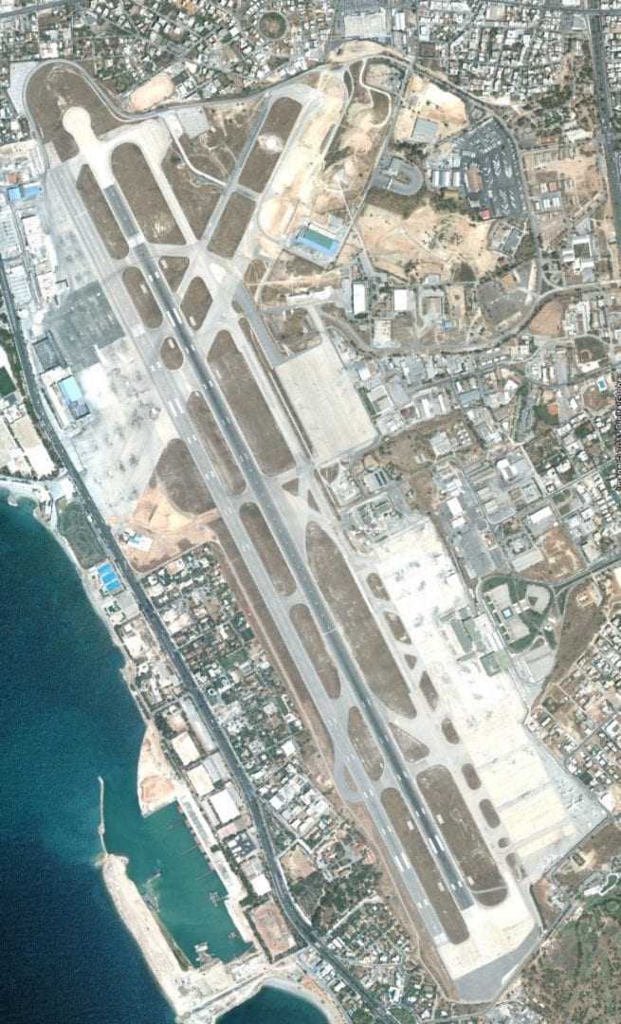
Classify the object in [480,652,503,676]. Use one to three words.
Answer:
building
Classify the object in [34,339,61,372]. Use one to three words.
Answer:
hangar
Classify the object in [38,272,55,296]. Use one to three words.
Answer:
hangar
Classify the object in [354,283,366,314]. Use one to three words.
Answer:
building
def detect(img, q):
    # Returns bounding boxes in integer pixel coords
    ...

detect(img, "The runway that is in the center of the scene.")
[99,176,474,911]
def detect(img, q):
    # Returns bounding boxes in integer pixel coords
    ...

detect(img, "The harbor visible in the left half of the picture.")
[99,775,252,1004]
